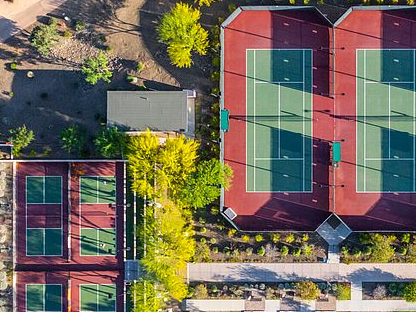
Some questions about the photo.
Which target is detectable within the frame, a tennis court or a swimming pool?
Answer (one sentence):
There is a tennis court in the scene.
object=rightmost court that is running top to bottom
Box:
[334,11,416,231]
